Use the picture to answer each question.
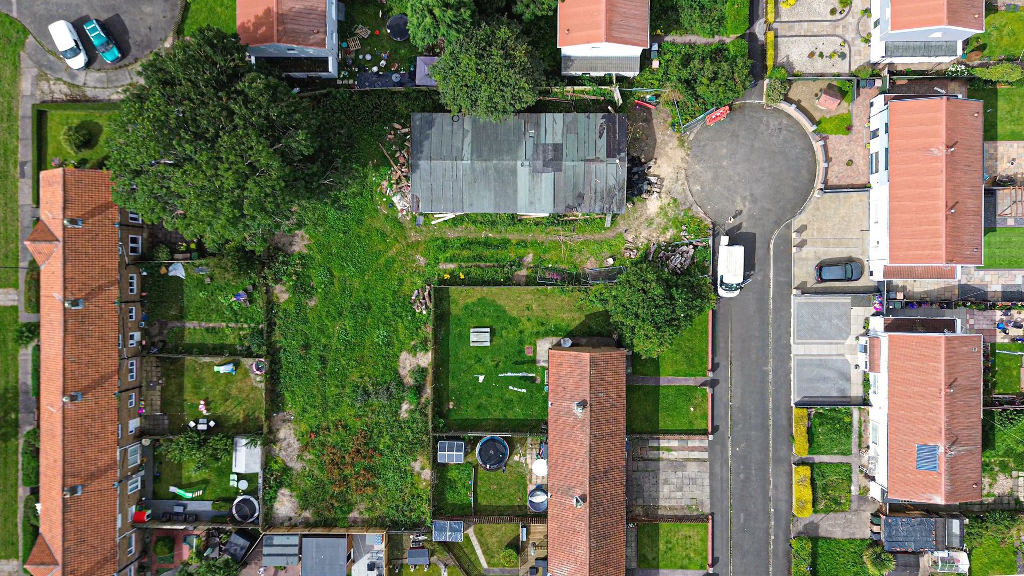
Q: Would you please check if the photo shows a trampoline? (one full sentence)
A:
Yes, there's a trampoline here.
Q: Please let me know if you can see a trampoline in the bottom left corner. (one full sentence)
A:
Yes, a trampoline can be seen in the bottom left corner.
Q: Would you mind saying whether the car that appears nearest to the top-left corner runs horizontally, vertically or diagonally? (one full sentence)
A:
Seen from above, the car that appears nearest to the top-left corner lies diagonally.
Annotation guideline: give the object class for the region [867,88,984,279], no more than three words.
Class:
house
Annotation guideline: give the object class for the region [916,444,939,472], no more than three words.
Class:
solar panel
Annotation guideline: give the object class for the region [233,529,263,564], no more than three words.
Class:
shed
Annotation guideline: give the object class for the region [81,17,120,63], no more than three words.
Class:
car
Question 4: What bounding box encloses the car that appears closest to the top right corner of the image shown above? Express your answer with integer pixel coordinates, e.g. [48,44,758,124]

[815,259,862,283]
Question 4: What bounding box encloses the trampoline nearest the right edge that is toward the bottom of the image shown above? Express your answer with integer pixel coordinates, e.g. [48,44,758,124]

[475,436,509,472]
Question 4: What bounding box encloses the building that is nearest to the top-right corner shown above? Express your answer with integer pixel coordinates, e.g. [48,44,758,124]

[870,0,985,60]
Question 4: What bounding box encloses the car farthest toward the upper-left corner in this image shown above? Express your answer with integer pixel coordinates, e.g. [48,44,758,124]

[44,17,89,69]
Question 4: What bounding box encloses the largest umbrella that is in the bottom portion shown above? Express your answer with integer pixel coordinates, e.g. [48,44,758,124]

[531,459,546,477]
